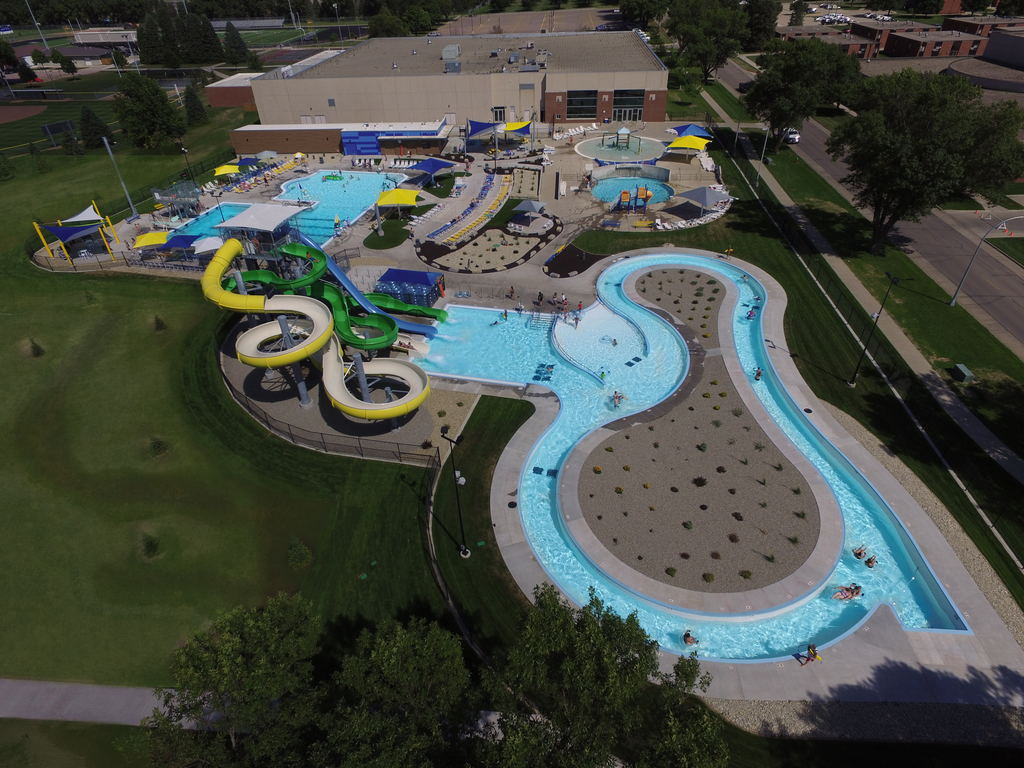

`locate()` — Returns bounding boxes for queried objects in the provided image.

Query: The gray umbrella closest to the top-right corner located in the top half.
[669,187,740,214]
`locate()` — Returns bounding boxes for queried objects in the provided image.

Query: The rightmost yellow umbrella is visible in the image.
[665,136,713,161]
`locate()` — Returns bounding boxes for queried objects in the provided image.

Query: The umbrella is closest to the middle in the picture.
[510,200,548,225]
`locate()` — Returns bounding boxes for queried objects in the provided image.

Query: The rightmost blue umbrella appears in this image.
[669,124,715,138]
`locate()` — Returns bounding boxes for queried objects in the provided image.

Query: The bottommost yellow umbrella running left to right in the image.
[132,232,171,249]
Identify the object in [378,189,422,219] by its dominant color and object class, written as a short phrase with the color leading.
yellow umbrella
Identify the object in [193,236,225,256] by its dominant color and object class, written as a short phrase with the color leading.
white umbrella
